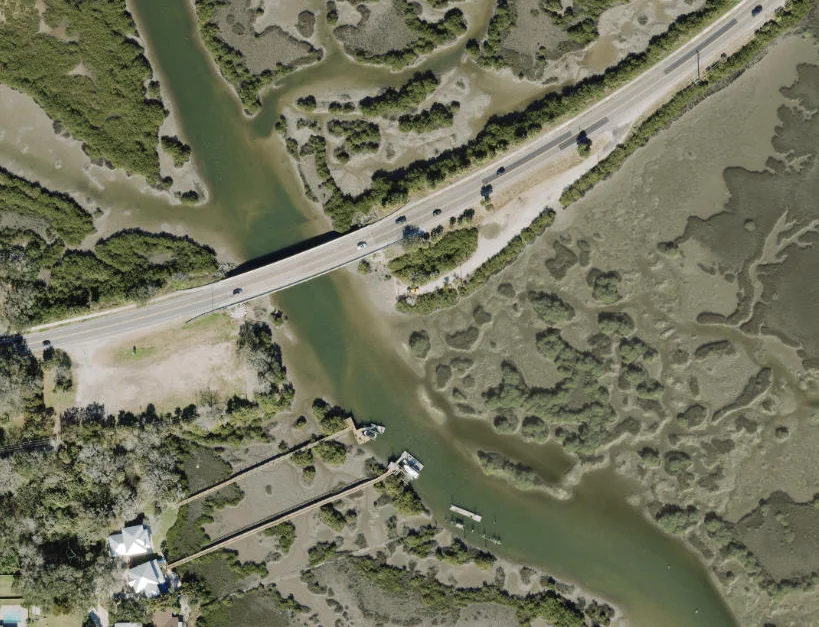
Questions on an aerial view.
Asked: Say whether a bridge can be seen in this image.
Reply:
Yes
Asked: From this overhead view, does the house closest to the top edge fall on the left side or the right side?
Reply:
left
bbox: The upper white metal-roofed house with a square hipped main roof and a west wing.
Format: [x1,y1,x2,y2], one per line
[106,526,150,557]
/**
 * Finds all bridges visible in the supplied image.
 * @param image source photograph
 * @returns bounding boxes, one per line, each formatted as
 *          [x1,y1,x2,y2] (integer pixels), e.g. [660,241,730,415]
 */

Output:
[182,210,399,324]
